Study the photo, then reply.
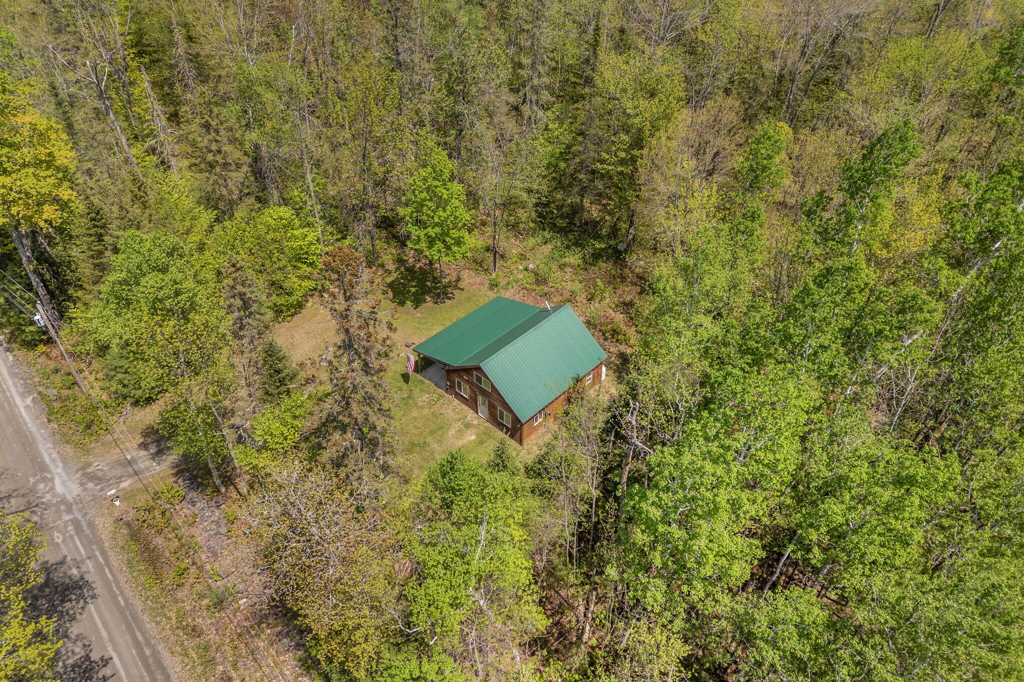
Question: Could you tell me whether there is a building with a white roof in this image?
No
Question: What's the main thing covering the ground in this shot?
trees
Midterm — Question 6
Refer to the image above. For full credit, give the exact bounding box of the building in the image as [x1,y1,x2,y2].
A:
[412,297,608,447]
